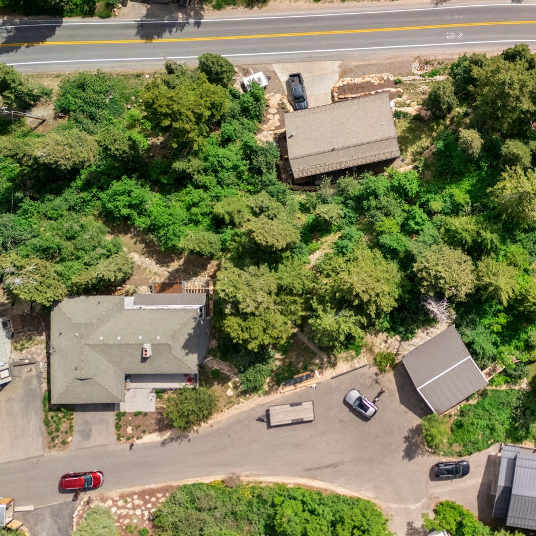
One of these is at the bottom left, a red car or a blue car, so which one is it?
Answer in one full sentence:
What appears at the bottom left is a red car.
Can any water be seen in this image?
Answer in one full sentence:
No, there's no water in this view.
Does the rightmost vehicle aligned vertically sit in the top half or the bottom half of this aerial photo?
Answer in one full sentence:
The rightmost vehicle aligned vertically is in the top half of the image.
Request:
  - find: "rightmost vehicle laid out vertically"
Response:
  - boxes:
[288,74,307,110]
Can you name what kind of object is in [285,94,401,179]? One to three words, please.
house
